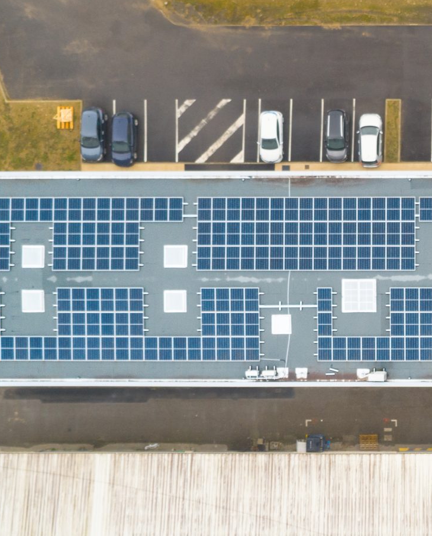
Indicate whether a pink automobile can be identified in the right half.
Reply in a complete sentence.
No, no pink automobile appears in the right half.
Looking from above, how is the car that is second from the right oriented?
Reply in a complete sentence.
The car that is second from the right runs up and down in the image.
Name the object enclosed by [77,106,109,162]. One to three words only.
car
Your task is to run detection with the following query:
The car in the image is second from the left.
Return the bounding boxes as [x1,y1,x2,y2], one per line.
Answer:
[107,110,140,169]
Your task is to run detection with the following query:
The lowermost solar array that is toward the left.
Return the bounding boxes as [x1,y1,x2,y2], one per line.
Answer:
[0,288,265,361]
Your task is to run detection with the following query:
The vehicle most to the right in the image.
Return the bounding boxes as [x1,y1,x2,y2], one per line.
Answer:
[355,112,382,168]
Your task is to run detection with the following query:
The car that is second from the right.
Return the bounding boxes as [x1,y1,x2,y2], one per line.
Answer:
[322,108,350,164]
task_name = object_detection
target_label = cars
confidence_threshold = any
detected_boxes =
[257,110,285,163]
[355,112,382,168]
[107,110,140,169]
[322,108,350,164]
[77,106,109,162]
